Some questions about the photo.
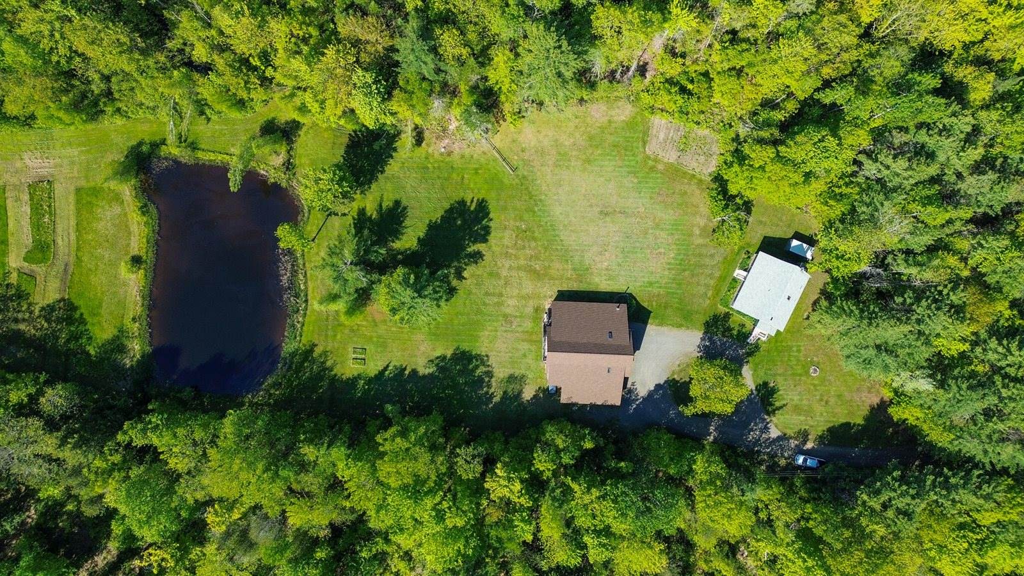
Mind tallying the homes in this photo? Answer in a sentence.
The photo contains 2 homes.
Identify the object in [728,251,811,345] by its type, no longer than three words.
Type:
house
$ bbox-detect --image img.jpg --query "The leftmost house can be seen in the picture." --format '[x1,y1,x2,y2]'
[540,298,634,407]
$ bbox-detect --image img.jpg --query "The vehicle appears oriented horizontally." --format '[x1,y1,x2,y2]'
[792,452,826,469]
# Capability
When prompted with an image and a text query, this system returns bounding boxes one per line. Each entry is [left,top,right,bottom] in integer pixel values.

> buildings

[784,240,808,258]
[540,298,634,407]
[728,251,811,345]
